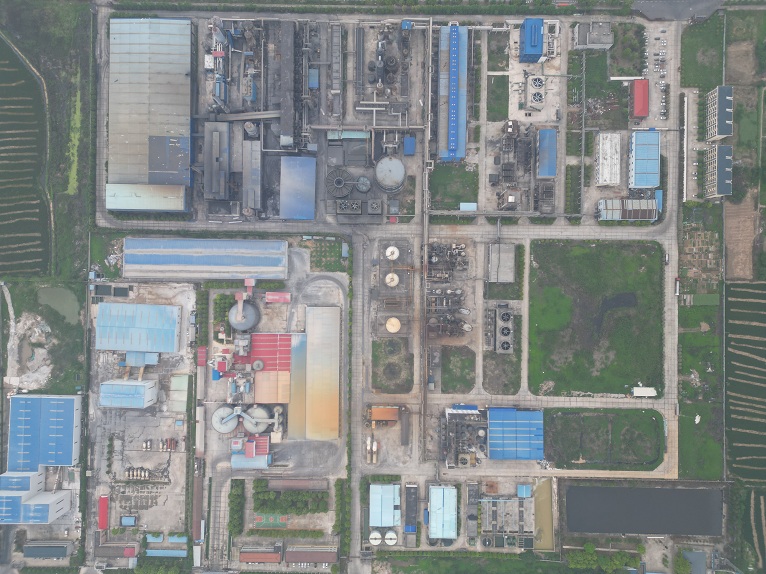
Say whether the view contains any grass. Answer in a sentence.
Yes, the picture does contain grass.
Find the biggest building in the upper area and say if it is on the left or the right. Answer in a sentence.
The biggest building in the upper area is on the left side of the image.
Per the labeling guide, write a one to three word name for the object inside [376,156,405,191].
storage tank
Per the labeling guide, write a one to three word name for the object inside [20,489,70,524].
building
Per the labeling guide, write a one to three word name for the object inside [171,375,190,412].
shed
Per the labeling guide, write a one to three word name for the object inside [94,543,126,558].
house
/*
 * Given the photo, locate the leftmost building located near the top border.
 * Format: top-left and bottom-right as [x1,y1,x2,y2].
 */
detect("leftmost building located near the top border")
[109,17,194,189]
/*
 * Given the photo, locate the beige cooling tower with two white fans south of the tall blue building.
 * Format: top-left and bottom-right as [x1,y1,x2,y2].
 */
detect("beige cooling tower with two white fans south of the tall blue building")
[525,76,545,109]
